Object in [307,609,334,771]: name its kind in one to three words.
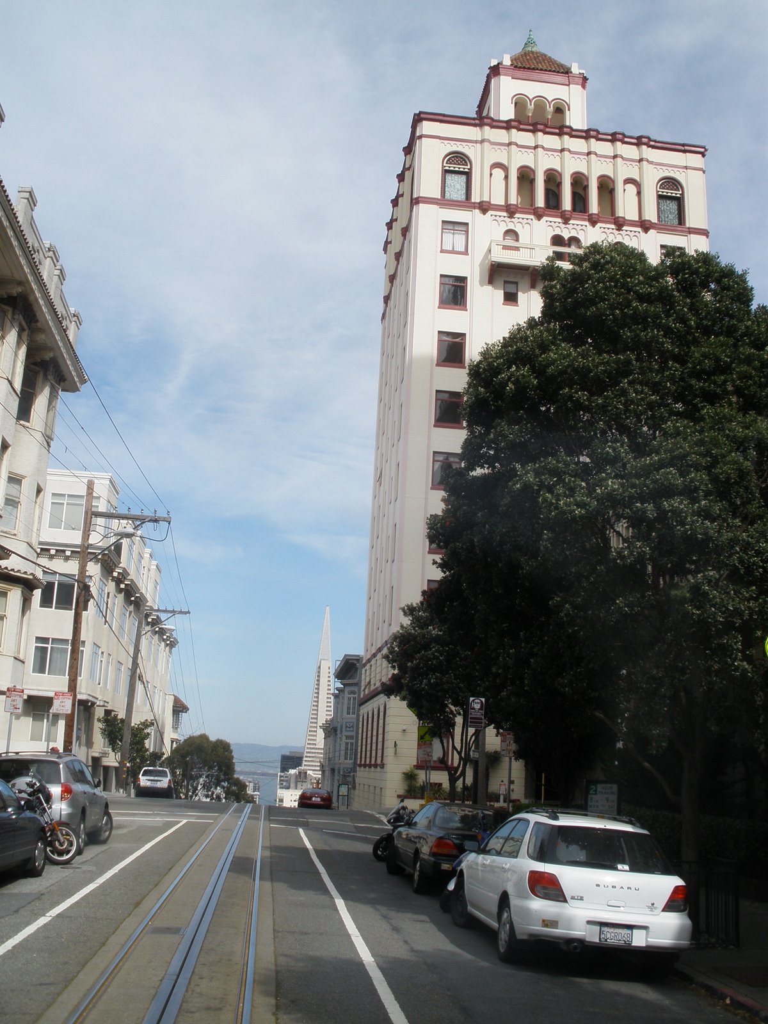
building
